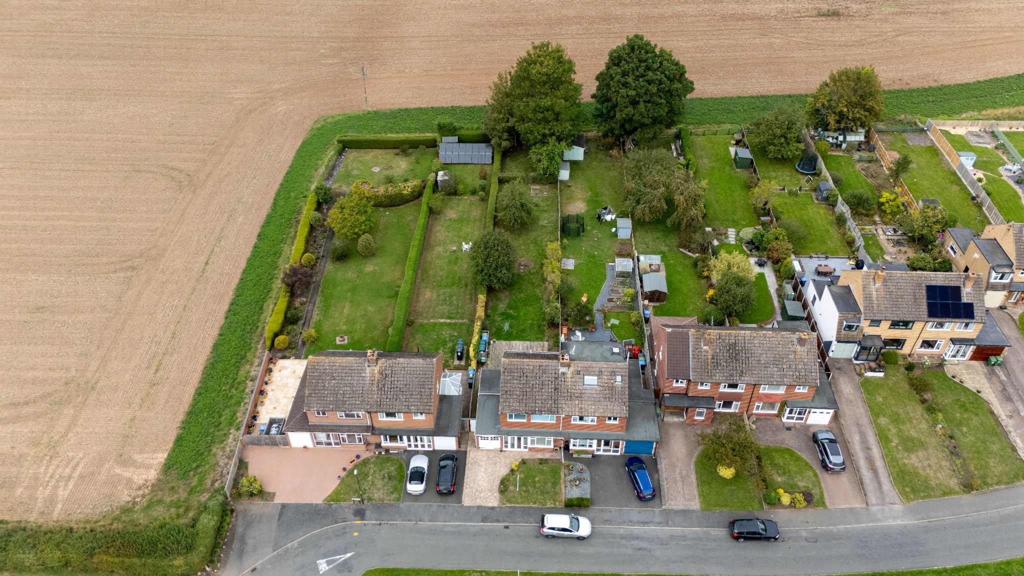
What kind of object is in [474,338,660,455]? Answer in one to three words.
house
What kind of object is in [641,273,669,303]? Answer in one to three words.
shed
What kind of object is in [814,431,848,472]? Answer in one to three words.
car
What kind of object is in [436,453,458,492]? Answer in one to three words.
car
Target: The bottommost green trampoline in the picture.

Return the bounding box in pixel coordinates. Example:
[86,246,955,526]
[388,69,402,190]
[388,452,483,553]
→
[562,215,584,239]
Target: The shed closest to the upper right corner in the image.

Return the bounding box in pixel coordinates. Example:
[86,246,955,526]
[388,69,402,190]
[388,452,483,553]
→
[956,149,980,168]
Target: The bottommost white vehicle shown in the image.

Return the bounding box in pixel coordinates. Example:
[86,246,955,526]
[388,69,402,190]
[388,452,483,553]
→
[541,515,592,542]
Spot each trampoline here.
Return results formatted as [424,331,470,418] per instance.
[795,150,824,176]
[562,215,584,239]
